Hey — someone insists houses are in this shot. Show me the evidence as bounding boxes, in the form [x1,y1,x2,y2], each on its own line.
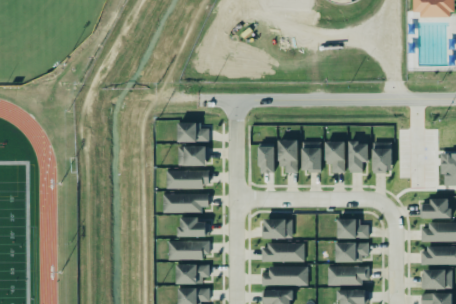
[420,198,452,218]
[176,263,210,284]
[277,139,298,172]
[372,142,393,172]
[336,218,370,239]
[166,170,210,189]
[421,268,452,289]
[262,289,294,304]
[176,216,206,237]
[324,140,346,172]
[262,218,292,239]
[336,289,366,304]
[168,240,210,260]
[421,222,456,242]
[258,144,275,172]
[262,242,306,262]
[348,140,368,172]
[178,145,206,166]
[301,142,322,172]
[421,292,452,304]
[176,122,210,142]
[162,191,210,213]
[178,286,210,304]
[328,265,370,286]
[421,245,456,265]
[262,266,309,286]
[334,242,370,262]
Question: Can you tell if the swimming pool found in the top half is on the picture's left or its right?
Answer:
right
